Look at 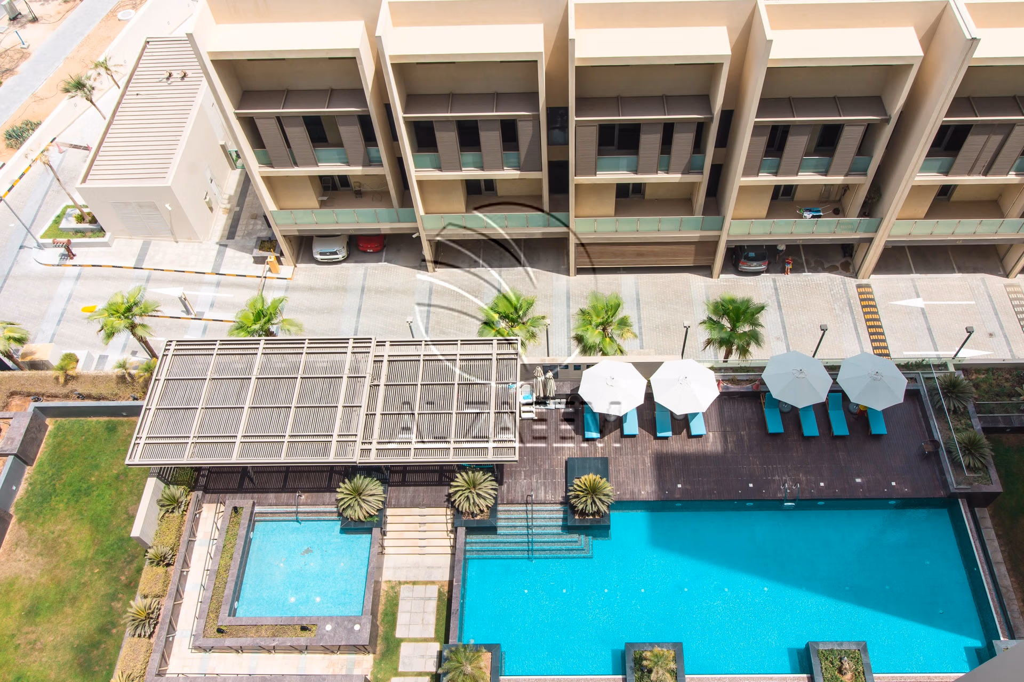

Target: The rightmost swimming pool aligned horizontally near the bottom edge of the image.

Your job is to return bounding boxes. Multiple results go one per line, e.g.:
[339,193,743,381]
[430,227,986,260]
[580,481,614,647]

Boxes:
[447,497,1011,682]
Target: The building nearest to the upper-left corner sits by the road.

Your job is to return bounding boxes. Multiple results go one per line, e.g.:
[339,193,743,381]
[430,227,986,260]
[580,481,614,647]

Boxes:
[77,35,233,242]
